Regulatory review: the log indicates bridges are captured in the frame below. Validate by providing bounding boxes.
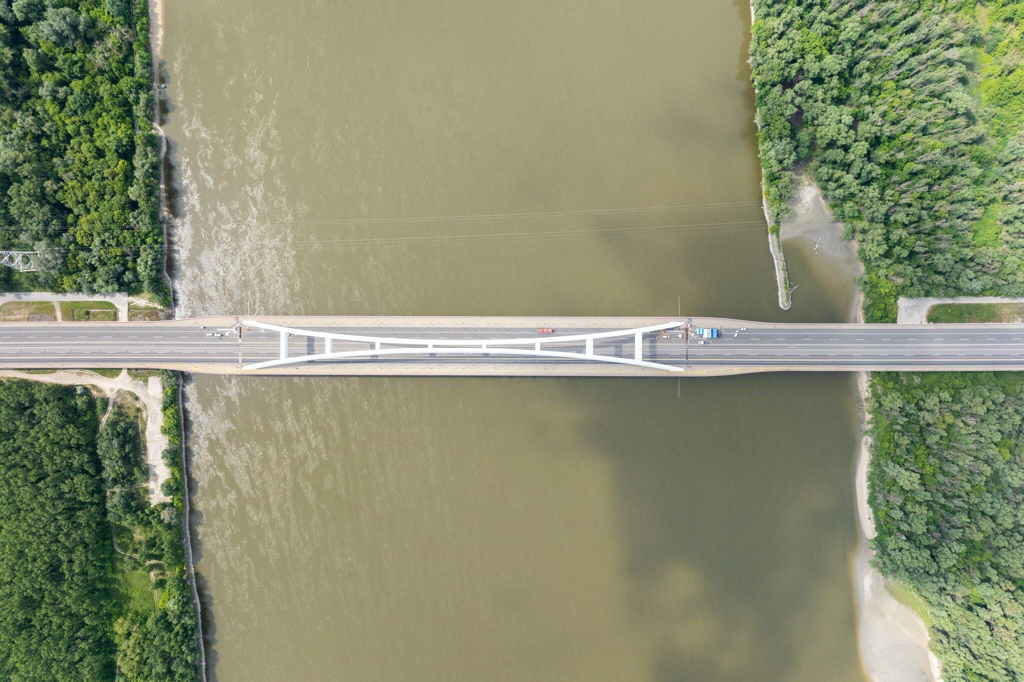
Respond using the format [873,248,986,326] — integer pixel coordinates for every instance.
[0,297,1024,395]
